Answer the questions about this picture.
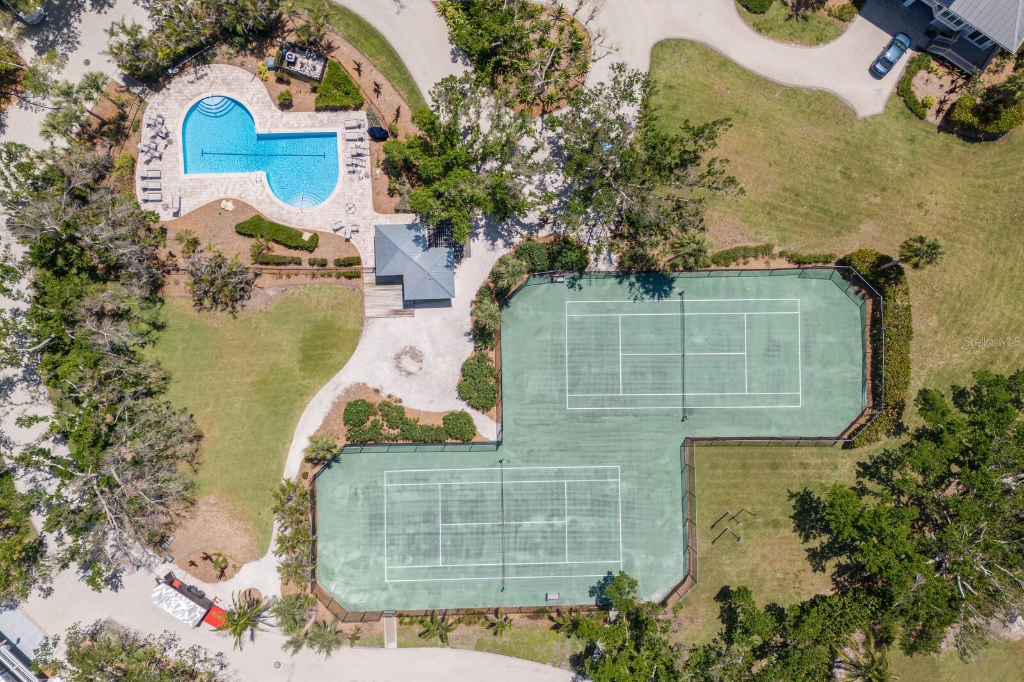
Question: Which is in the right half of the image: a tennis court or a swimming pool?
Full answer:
The one visible in the right half of the image is a tennis court.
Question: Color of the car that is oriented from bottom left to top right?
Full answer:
The car that is oriented from bottom left to top right is blue.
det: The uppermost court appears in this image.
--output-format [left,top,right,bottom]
[501,268,867,441]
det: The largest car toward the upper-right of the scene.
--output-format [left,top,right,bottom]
[873,31,909,76]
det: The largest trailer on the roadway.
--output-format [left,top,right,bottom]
[148,571,231,632]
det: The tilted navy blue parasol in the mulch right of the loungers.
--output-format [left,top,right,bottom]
[368,126,389,143]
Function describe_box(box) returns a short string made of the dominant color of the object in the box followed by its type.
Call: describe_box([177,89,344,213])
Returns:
blue swimming pool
